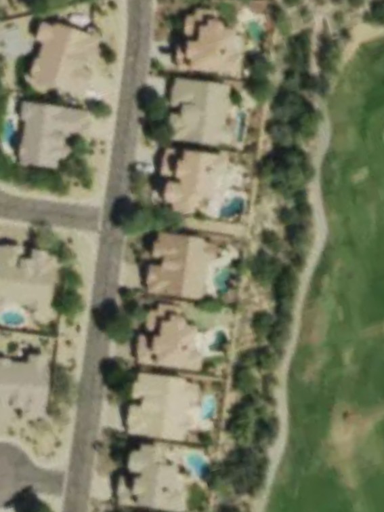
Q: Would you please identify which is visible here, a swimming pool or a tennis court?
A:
swimming pool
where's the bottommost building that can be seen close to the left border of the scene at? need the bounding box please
[0,353,48,418]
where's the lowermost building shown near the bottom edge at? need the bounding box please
[115,444,185,511]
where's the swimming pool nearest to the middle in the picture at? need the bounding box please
[214,268,232,296]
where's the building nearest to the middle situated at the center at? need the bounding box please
[143,232,207,299]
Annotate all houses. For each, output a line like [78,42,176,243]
[0,353,48,418]
[128,375,199,442]
[165,148,225,211]
[0,247,55,316]
[132,310,197,370]
[24,17,100,92]
[17,98,91,165]
[175,16,245,76]
[143,232,207,299]
[115,444,185,511]
[167,77,236,145]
